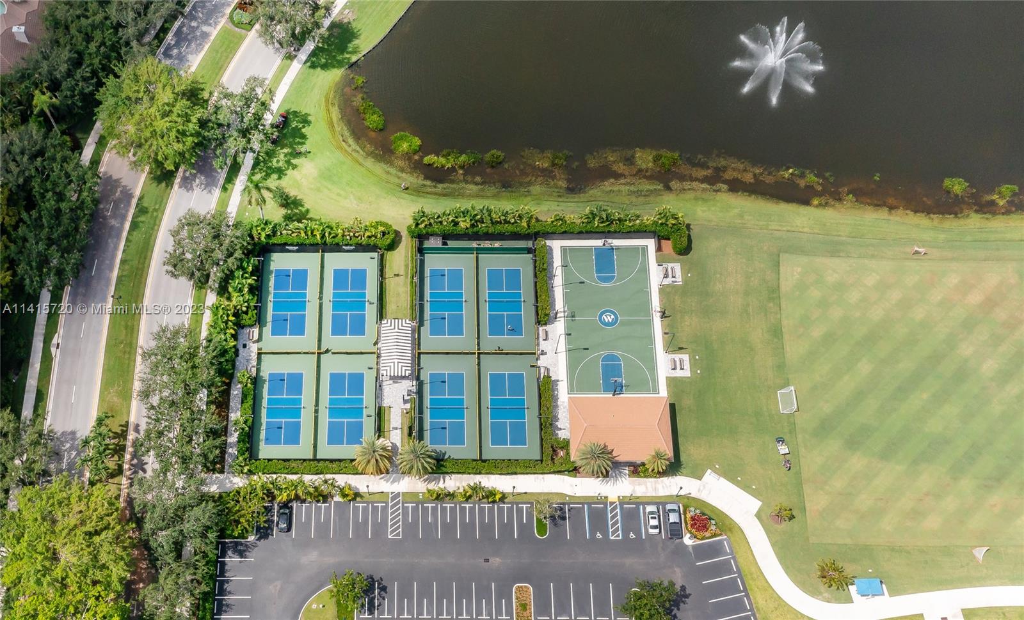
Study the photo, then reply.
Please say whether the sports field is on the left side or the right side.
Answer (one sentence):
The sports field appears in the right half of the scene.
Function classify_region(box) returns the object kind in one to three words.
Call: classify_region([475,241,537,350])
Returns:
sports court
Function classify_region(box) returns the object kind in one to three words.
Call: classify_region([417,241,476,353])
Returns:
sports court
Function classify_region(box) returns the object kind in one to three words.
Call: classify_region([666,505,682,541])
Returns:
vehicle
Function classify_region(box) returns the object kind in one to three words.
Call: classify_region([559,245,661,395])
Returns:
basketball court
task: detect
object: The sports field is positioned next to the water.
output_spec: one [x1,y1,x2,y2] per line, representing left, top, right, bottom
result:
[780,254,1024,547]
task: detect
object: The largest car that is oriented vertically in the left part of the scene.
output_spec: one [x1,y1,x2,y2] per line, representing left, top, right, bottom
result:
[277,506,291,535]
